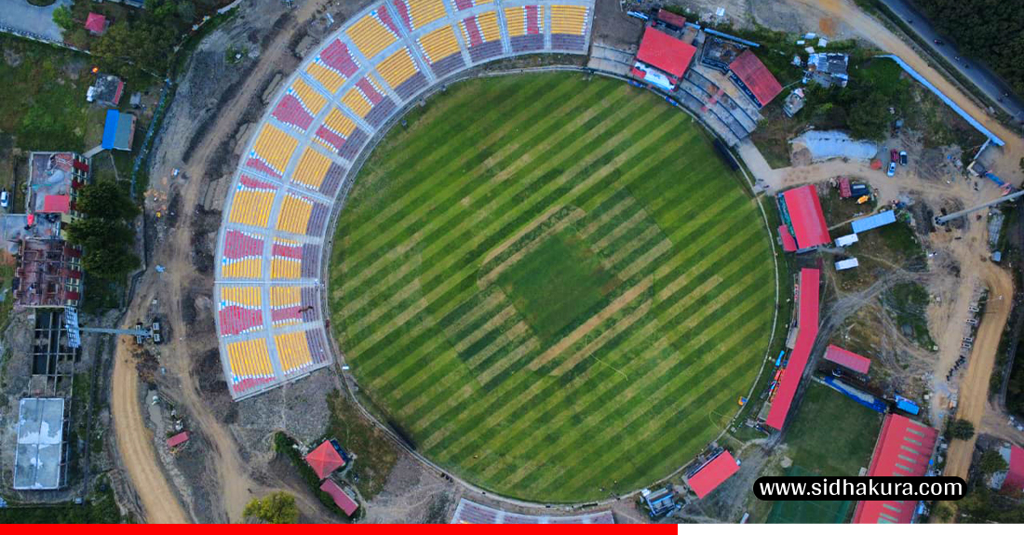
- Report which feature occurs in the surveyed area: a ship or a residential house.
residential house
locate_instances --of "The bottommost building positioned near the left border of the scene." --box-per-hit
[13,398,80,489]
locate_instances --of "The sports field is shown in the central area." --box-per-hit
[326,68,779,507]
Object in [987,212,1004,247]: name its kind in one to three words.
greenhouse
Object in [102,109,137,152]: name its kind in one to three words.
house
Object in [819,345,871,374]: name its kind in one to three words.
shed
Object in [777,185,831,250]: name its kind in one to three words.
building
